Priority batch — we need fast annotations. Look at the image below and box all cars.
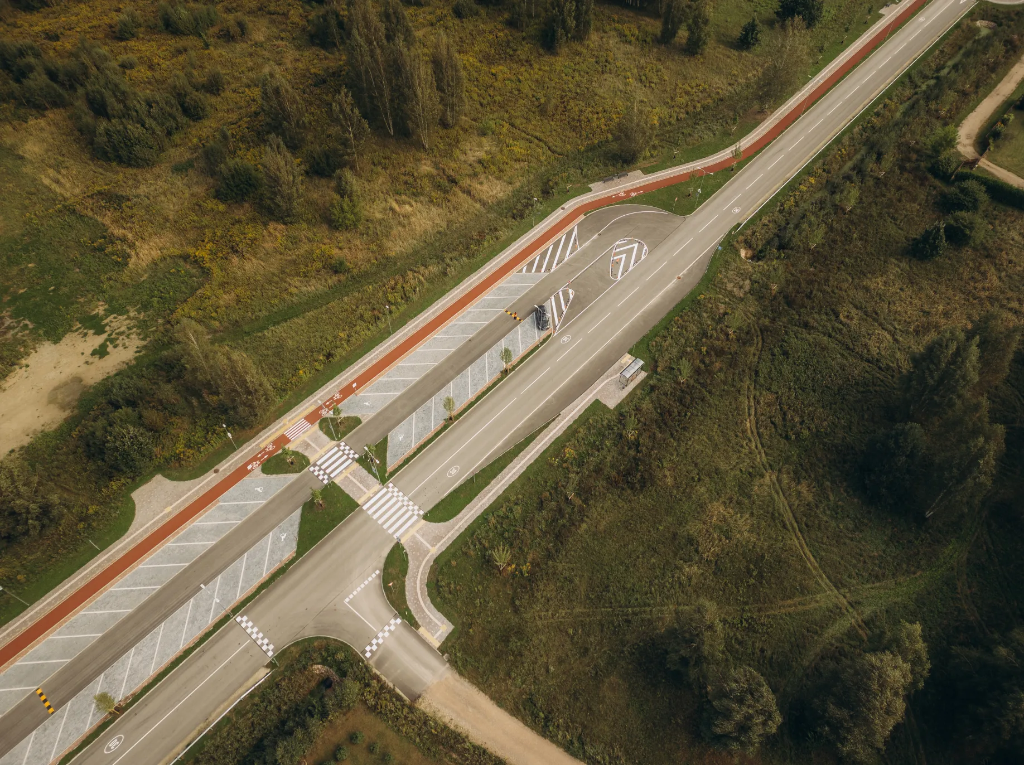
[538,304,551,328]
